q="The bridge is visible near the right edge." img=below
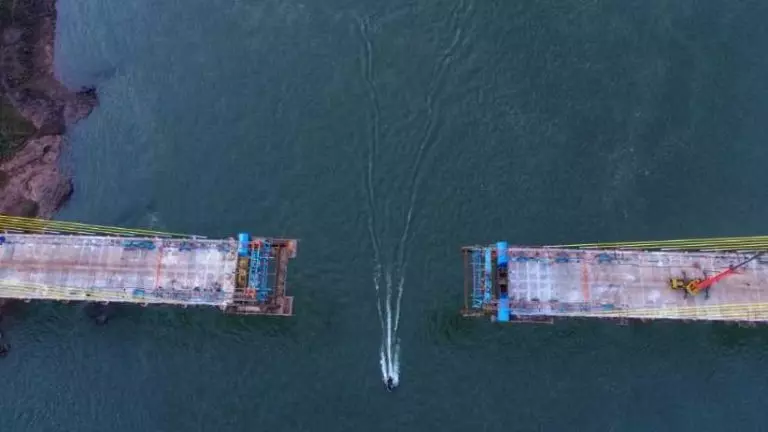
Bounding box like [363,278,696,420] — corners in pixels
[508,246,768,324]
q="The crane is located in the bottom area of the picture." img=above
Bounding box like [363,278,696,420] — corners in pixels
[671,256,763,300]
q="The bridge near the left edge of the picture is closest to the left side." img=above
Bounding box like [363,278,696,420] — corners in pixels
[0,233,237,308]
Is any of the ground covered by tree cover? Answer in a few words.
No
